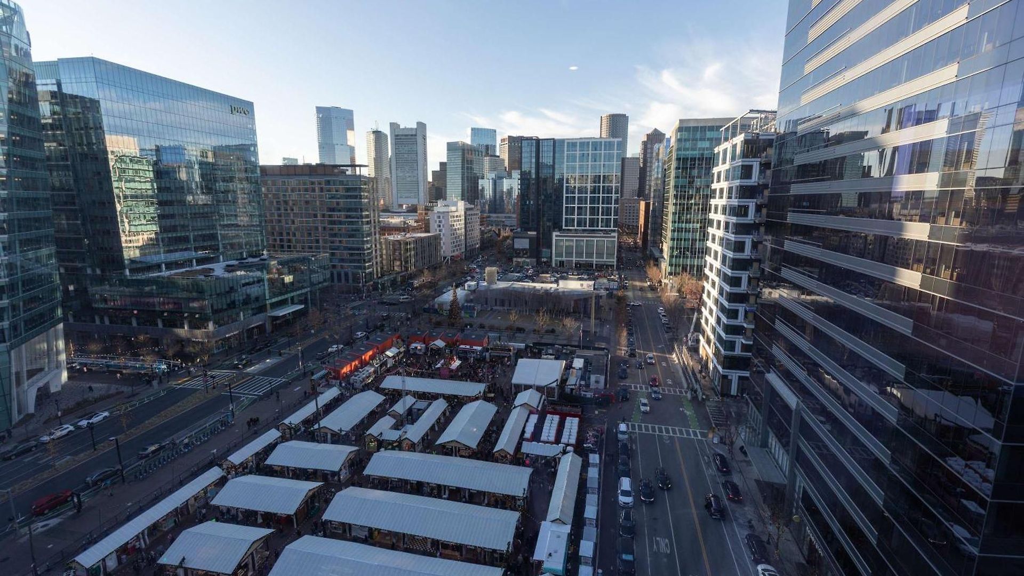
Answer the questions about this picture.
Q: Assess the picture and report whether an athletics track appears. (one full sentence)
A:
No, this view has no athletics track in it.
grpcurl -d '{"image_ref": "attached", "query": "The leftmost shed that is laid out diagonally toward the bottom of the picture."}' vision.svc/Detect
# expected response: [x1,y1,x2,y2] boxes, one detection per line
[69,464,228,576]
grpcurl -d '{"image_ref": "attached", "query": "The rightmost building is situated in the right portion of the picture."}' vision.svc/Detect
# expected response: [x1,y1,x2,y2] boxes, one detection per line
[743,0,1024,576]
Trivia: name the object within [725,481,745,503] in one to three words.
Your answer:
car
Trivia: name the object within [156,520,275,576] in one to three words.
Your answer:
shed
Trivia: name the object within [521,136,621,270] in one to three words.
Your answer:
building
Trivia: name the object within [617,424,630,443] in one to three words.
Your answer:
vehicle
